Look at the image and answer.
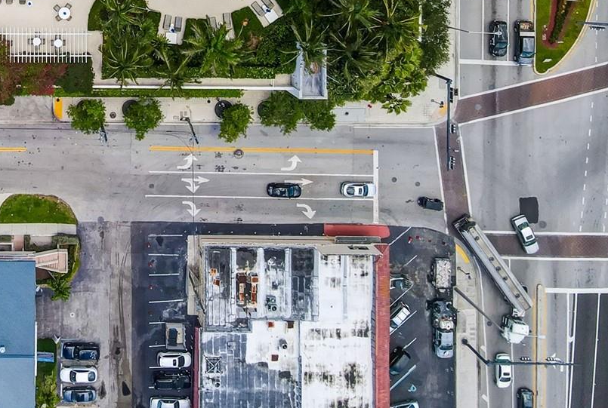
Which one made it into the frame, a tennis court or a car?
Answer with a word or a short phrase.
car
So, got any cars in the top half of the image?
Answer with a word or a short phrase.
Yes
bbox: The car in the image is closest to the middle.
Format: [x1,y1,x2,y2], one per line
[266,182,301,198]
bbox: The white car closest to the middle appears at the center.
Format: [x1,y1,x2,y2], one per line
[339,182,375,199]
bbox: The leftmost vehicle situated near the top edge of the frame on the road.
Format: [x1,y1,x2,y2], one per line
[488,19,510,58]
